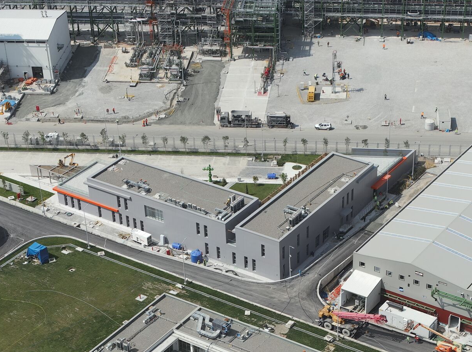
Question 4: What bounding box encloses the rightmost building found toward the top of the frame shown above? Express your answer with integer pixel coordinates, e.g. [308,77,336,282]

[437,105,452,130]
